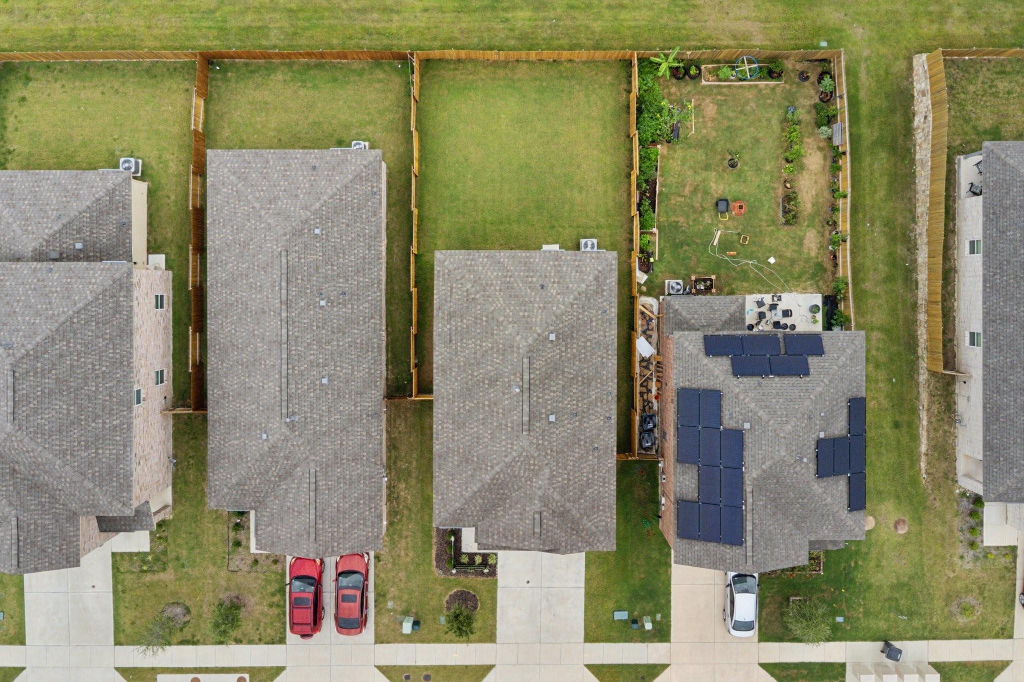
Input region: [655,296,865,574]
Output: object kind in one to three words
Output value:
house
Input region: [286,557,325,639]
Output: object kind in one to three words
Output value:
car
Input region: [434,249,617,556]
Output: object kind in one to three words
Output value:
house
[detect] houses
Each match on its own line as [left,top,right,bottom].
[0,168,178,574]
[207,147,387,560]
[952,141,1024,535]
[655,296,865,574]
[434,249,617,556]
